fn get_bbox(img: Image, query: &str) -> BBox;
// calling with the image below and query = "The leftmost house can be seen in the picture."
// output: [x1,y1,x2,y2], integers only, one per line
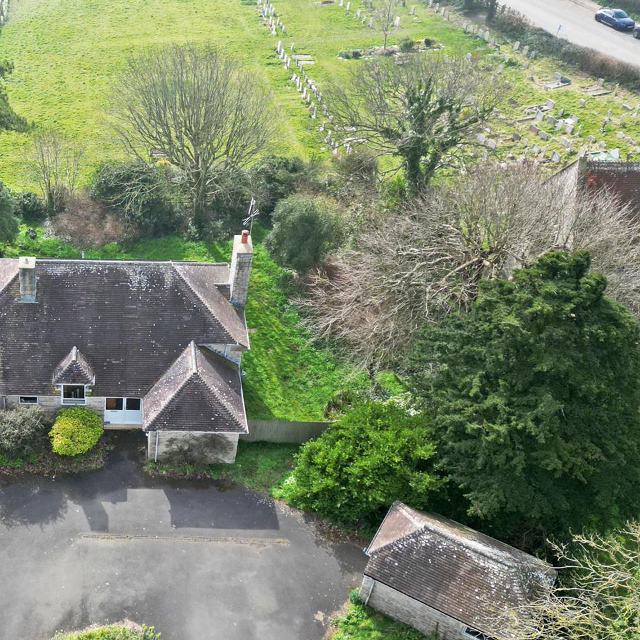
[0,225,252,461]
